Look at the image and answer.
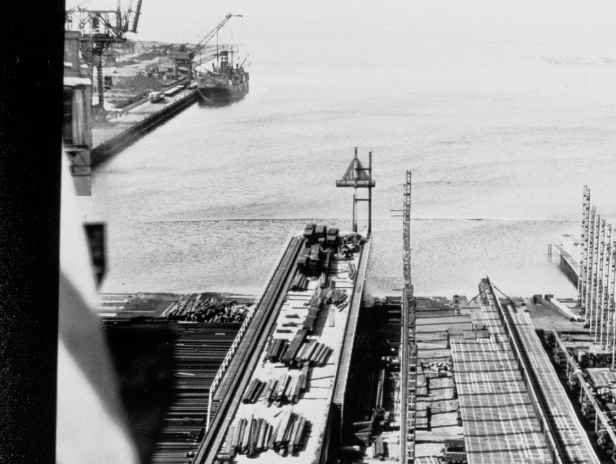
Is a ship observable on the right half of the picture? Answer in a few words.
No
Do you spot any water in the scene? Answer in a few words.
Yes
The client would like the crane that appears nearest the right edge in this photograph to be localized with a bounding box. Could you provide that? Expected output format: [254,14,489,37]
[163,14,242,93]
